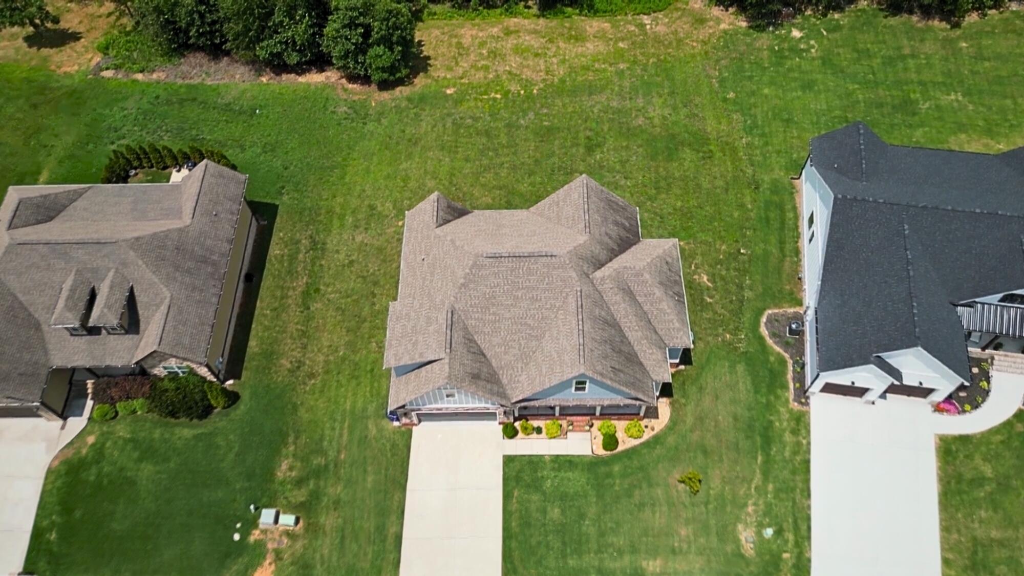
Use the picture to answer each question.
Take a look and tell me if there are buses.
No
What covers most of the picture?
grass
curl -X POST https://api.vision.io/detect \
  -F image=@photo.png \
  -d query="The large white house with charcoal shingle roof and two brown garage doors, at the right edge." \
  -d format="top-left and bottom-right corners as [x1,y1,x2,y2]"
[790,122,1024,405]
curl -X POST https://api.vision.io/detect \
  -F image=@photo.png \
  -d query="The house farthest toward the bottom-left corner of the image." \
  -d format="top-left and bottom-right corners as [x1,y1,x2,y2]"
[0,158,271,421]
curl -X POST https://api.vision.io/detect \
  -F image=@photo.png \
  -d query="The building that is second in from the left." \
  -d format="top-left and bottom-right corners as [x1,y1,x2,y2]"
[382,175,694,432]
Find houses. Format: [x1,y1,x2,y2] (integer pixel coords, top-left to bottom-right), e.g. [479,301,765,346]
[0,158,271,421]
[790,122,1024,405]
[382,175,694,432]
